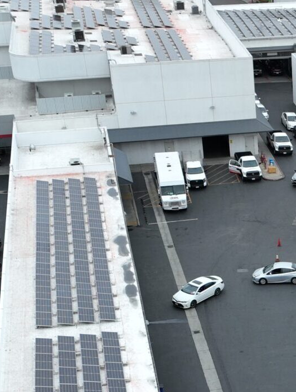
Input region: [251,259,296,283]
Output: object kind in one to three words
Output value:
car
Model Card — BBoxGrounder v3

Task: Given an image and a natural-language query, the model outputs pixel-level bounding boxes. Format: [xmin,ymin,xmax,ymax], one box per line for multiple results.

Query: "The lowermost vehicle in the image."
[178,279,231,312]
